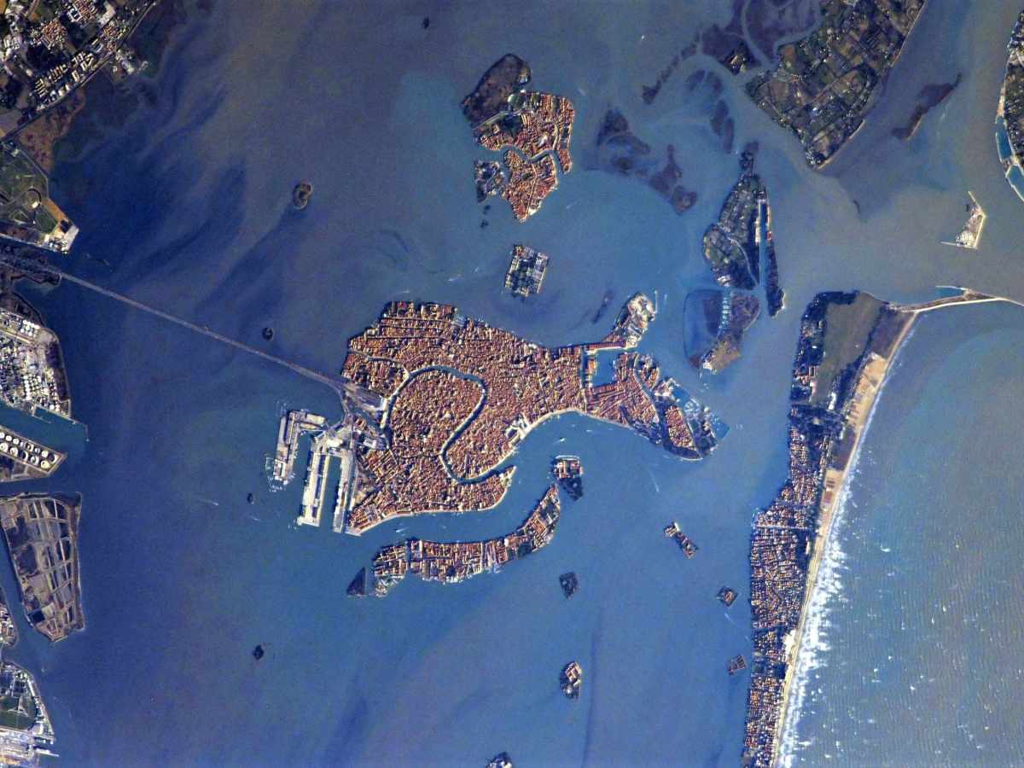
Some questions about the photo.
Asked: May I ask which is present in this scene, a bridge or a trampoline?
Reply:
bridge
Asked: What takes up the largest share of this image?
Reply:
water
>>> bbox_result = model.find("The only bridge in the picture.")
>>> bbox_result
[58,273,343,390]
